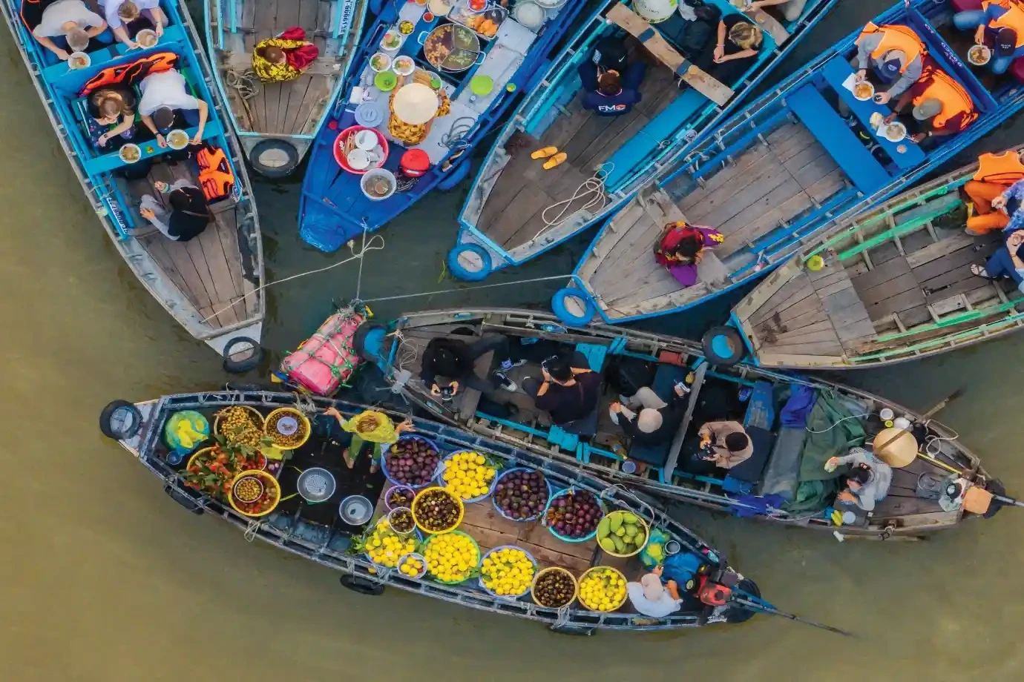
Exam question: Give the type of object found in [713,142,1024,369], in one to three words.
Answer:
boat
